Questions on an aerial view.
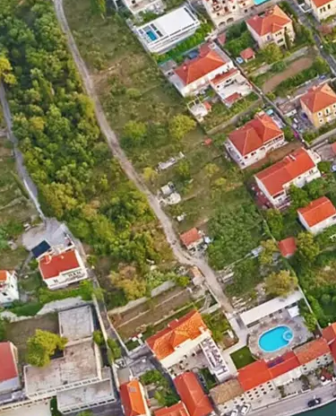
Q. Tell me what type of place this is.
residential area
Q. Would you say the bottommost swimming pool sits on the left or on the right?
right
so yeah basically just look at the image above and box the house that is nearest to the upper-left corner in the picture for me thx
[114,0,166,25]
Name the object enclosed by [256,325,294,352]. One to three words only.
swimming pool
